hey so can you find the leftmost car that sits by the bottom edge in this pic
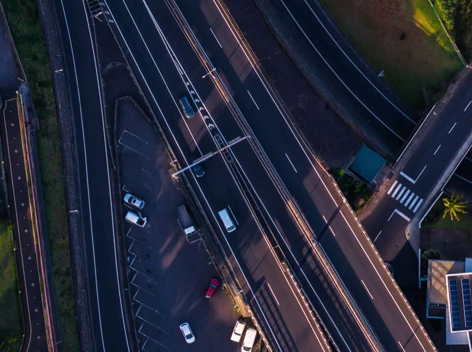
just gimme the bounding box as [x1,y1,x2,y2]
[178,322,195,345]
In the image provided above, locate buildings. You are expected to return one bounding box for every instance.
[421,257,472,352]
[352,144,386,182]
